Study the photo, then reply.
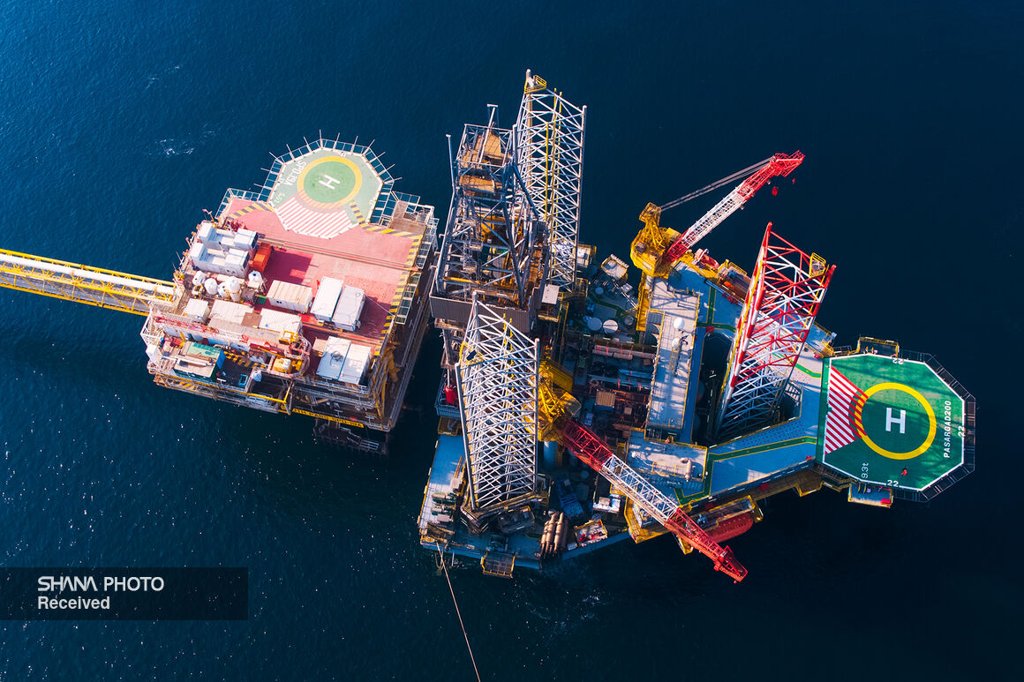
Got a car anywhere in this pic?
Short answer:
No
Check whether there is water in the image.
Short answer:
Yes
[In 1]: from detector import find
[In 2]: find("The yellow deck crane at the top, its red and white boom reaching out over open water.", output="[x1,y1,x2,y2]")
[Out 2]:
[619,147,807,324]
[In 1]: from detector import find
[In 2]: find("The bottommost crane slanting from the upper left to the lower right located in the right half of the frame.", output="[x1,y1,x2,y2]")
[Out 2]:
[510,351,749,584]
